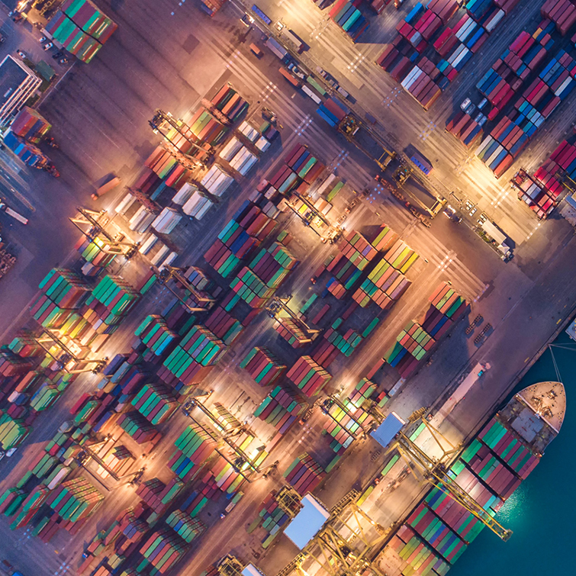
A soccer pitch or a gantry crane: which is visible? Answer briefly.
gantry crane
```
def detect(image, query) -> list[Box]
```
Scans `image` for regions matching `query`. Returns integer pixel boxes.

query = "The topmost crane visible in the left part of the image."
[145,107,218,166]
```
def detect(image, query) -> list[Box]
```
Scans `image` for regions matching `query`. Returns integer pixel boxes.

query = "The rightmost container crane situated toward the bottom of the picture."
[357,392,516,543]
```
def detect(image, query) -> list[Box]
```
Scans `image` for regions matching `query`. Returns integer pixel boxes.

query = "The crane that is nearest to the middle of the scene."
[265,292,330,345]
